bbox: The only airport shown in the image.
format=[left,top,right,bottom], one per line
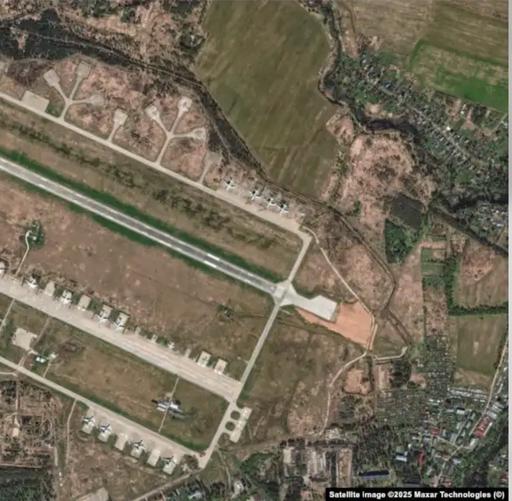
[0,62,336,501]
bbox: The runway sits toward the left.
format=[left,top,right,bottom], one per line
[0,157,276,294]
